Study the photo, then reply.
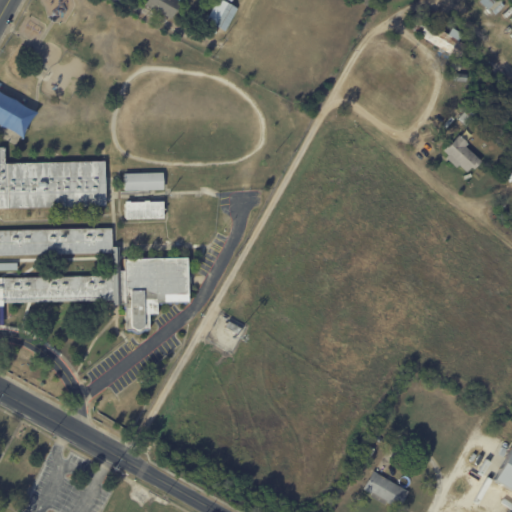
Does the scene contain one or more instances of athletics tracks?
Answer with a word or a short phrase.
Yes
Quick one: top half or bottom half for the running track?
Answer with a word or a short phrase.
top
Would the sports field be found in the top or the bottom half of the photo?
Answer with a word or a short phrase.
top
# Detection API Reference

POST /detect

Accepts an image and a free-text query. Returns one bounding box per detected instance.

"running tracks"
[110,65,266,168]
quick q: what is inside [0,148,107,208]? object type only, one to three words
building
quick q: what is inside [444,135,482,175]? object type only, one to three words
house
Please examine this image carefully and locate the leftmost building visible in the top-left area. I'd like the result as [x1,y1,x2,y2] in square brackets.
[0,92,38,140]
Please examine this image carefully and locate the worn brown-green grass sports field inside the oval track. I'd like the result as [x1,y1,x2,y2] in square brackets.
[118,72,260,160]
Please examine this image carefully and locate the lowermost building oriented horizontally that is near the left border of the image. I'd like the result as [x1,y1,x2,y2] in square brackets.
[3,276,114,302]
